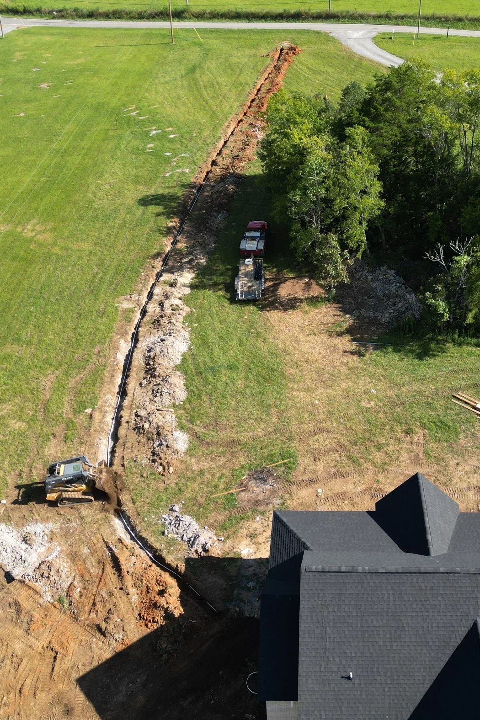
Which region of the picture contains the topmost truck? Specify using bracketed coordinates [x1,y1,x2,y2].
[240,221,270,256]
